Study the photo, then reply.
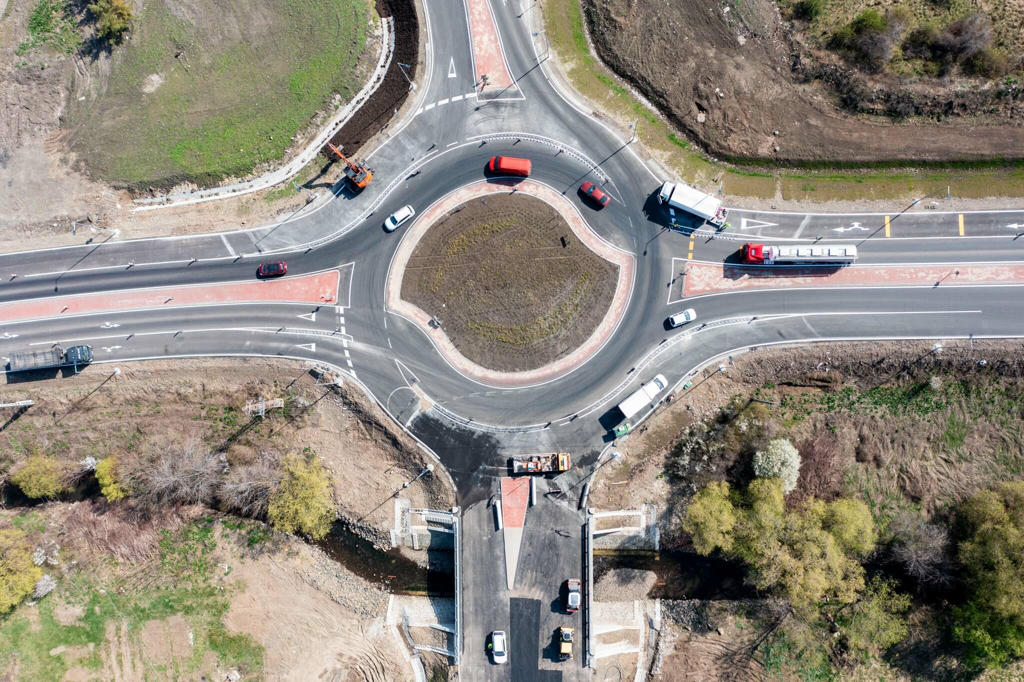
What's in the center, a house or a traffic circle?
traffic circle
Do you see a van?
Yes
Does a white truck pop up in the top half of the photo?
Yes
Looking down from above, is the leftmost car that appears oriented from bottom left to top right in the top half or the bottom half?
top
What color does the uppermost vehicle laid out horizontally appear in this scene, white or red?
red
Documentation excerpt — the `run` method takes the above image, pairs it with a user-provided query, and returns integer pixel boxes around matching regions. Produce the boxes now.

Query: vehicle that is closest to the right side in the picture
[736,244,861,265]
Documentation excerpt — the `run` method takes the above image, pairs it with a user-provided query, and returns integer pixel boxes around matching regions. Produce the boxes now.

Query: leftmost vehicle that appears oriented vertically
[492,630,508,663]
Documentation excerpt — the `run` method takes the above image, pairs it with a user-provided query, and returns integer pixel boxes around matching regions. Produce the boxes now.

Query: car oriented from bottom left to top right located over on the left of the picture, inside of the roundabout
[385,204,416,233]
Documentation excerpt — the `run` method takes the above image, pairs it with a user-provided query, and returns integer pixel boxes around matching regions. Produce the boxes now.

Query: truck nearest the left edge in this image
[15,342,95,370]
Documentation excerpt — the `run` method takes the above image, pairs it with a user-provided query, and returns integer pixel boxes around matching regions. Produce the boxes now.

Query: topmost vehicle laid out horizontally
[490,158,531,178]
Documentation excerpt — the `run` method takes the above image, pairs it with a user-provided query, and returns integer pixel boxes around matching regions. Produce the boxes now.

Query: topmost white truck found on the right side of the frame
[652,176,724,224]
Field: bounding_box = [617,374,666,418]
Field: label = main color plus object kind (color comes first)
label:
white van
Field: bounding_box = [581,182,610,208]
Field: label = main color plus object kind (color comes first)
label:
red car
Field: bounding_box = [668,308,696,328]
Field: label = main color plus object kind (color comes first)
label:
white car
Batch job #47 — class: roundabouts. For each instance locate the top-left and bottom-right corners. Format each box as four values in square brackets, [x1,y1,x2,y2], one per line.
[25,132,981,433]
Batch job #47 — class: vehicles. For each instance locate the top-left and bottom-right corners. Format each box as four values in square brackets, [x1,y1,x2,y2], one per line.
[490,158,531,178]
[258,261,289,277]
[512,451,573,473]
[736,244,861,265]
[331,144,379,194]
[385,204,416,233]
[612,424,631,439]
[652,176,724,224]
[581,182,610,208]
[617,374,666,418]
[492,630,508,663]
[15,342,95,370]
[560,625,574,659]
[668,308,696,328]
